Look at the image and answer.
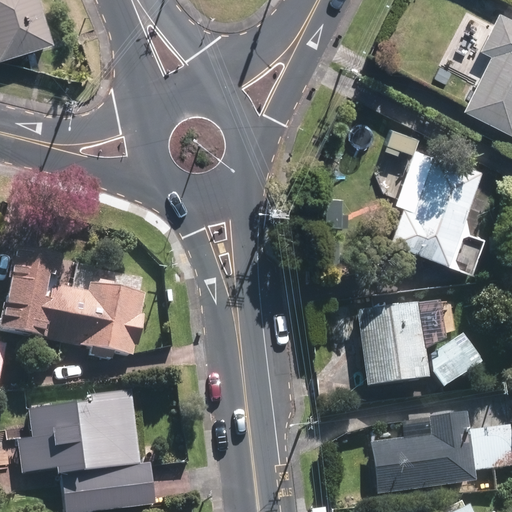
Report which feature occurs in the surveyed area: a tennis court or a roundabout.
roundabout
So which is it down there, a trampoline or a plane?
trampoline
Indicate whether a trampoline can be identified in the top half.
Yes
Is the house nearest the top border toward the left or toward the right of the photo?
left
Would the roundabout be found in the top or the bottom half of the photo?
top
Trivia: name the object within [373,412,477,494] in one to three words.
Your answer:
house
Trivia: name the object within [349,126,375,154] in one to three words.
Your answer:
trampoline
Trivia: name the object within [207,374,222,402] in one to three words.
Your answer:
car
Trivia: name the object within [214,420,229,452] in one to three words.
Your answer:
car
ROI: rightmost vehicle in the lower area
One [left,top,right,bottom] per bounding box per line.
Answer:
[274,315,290,345]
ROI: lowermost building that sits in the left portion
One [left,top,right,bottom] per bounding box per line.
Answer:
[17,390,156,512]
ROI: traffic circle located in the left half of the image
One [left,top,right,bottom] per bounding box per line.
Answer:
[168,116,225,174]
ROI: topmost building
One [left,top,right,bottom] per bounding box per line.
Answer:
[0,0,54,63]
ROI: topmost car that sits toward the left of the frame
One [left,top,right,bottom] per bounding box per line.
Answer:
[168,191,188,218]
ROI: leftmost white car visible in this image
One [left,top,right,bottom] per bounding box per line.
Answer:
[54,365,82,380]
